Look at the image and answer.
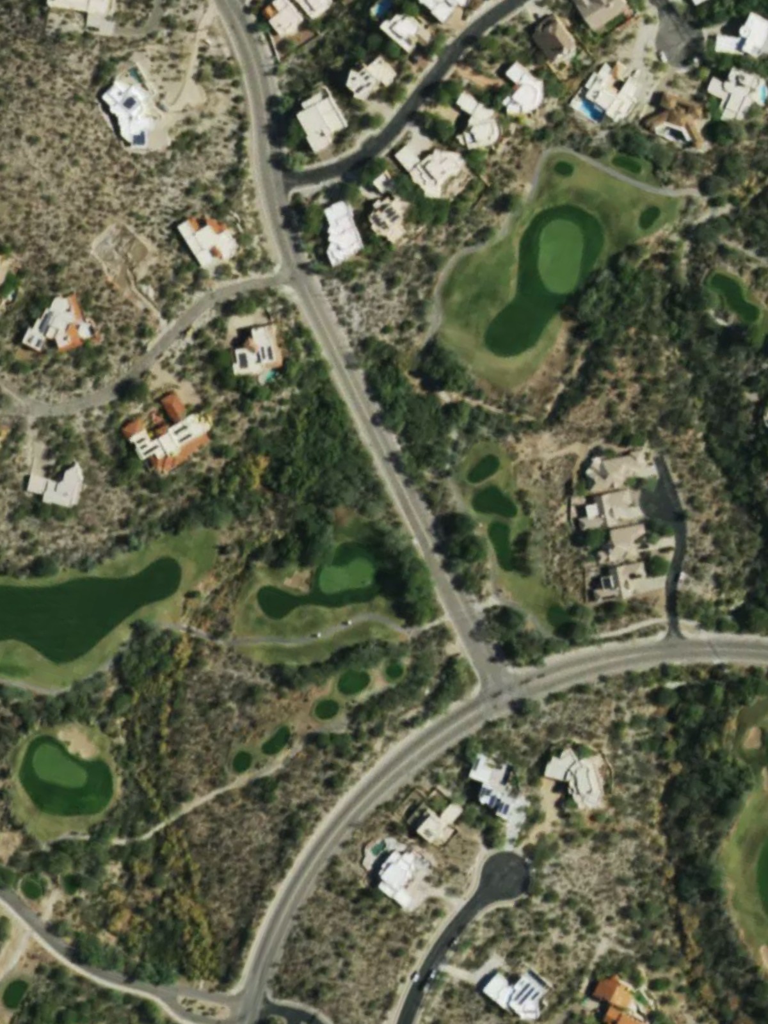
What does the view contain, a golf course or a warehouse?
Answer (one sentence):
Of the two, only a golf course appears.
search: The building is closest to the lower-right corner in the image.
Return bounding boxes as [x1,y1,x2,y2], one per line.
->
[594,976,648,1024]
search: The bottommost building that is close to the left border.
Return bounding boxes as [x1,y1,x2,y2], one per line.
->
[26,460,83,508]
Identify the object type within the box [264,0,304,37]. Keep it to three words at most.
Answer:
house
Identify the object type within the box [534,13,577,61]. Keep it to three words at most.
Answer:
house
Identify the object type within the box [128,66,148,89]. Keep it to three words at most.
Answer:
swimming pool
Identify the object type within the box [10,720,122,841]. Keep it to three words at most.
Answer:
golf course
